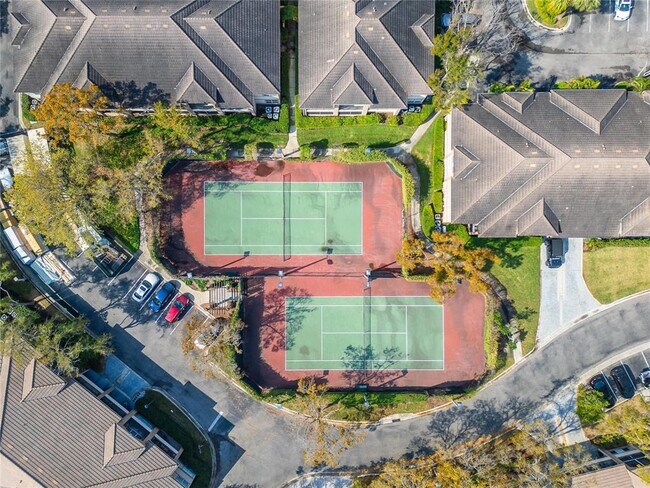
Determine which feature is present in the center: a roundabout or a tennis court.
tennis court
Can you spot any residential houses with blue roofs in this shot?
No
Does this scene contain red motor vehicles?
Yes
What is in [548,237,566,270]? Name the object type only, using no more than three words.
car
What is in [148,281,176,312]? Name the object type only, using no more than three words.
car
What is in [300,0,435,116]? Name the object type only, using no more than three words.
house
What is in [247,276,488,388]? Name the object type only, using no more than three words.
tennis court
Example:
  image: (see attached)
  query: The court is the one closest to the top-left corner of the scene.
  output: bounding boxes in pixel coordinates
[162,160,404,276]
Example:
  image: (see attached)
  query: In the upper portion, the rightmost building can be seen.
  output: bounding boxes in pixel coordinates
[446,89,650,237]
